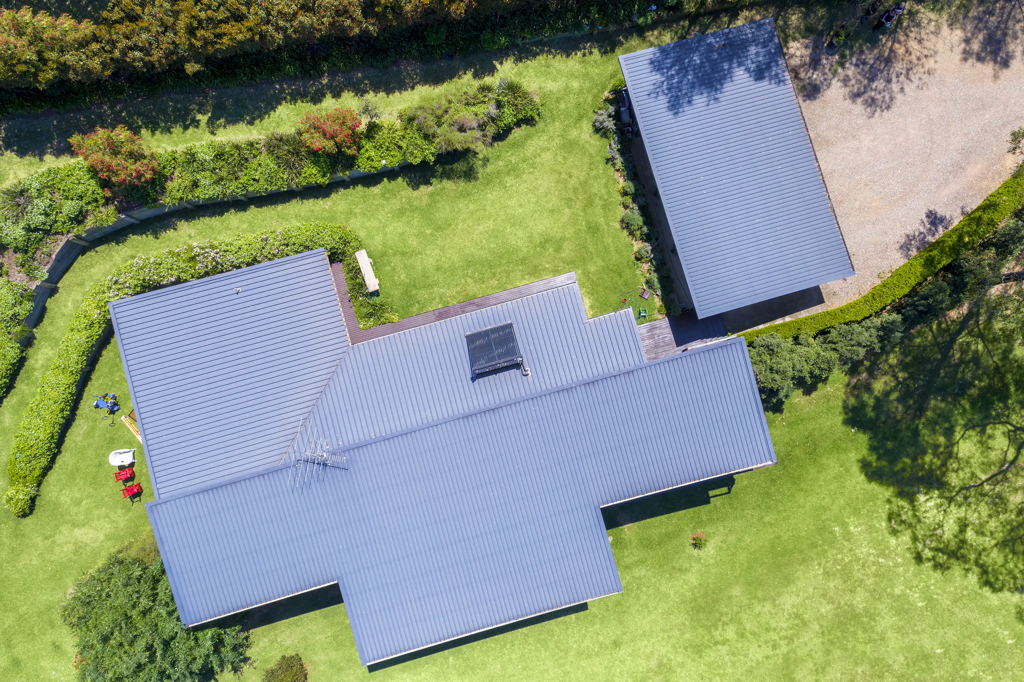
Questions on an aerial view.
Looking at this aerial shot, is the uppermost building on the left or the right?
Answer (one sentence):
The uppermost building appears in the right half of the scene.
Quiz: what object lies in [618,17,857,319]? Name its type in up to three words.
building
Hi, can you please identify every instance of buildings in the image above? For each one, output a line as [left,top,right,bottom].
[107,247,777,667]
[618,17,857,319]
